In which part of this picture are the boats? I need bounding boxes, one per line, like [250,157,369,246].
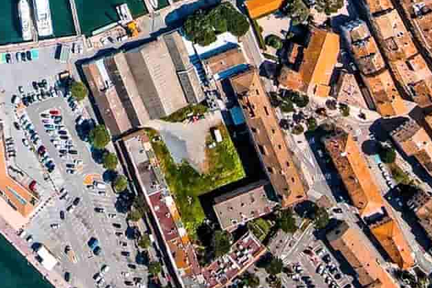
[151,0,159,8]
[33,0,53,39]
[118,3,131,24]
[19,0,32,41]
